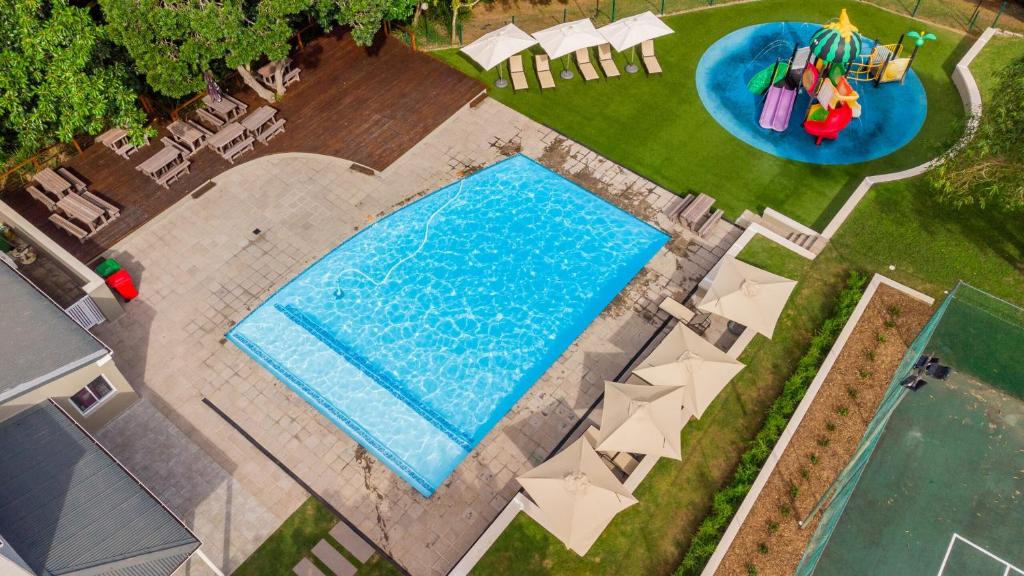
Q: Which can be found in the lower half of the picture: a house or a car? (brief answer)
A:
house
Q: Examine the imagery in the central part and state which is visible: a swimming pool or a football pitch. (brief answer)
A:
swimming pool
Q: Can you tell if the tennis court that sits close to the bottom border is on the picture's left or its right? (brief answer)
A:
right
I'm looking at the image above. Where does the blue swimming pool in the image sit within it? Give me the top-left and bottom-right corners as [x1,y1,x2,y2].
[226,153,668,496]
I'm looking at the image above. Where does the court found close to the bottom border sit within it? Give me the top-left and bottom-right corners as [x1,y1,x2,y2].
[796,358,1024,576]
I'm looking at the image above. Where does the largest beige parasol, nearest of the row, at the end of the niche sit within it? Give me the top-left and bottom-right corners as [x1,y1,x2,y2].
[516,437,639,557]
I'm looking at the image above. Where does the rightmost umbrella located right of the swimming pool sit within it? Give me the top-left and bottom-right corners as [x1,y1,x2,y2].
[698,257,797,345]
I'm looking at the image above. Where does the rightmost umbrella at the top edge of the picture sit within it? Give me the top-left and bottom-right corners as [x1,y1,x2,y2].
[597,11,674,72]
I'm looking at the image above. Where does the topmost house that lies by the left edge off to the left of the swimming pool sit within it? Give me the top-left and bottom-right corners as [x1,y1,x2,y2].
[0,257,140,440]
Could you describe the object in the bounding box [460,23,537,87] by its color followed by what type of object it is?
white umbrella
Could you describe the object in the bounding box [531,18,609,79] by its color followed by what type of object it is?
white umbrella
